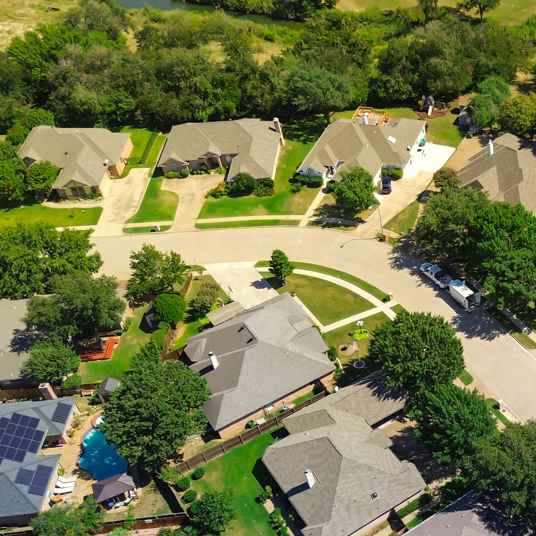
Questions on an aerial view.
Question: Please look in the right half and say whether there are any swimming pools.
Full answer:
No, no swimming pool appears in the right half.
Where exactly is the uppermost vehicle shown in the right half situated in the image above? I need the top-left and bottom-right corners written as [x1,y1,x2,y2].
[380,179,393,194]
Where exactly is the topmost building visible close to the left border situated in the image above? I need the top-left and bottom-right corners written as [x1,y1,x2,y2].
[18,124,133,202]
